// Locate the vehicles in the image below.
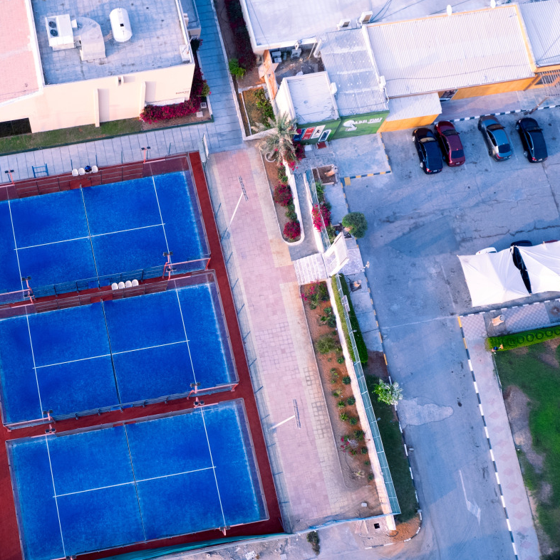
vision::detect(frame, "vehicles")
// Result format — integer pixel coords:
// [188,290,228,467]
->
[412,127,446,175]
[479,115,514,161]
[516,116,553,163]
[478,239,503,254]
[542,232,560,242]
[434,119,468,167]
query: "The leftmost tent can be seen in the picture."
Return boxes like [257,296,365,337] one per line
[457,246,533,308]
